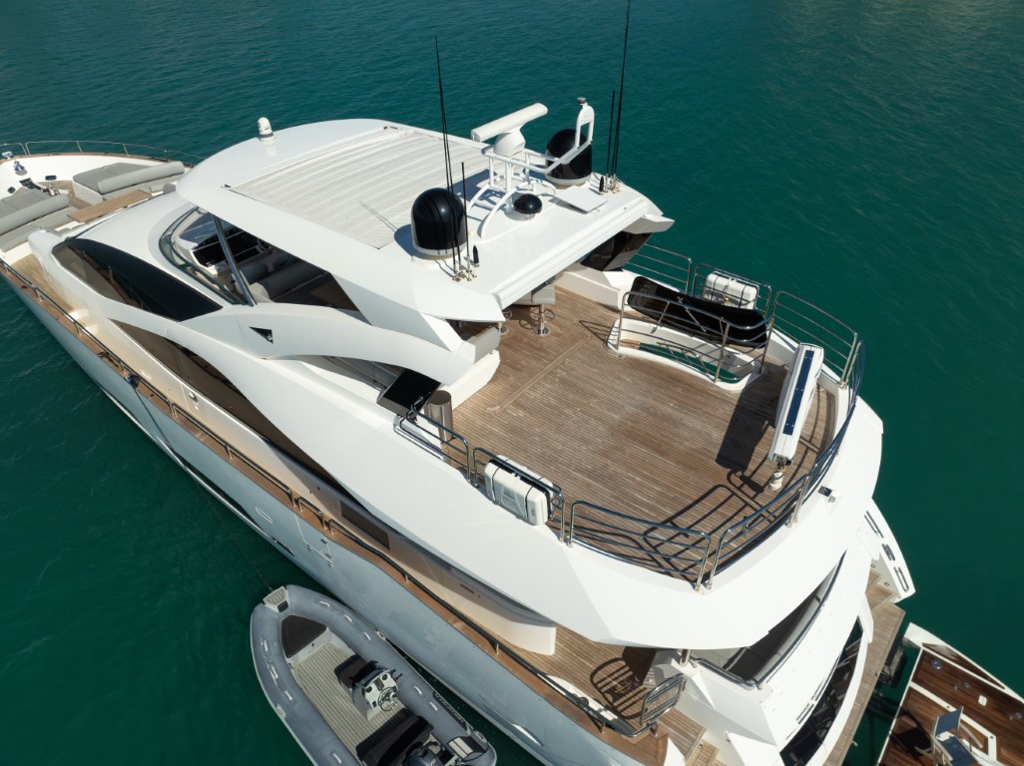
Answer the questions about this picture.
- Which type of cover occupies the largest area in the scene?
water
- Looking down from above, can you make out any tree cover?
No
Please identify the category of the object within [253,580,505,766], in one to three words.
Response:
boat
